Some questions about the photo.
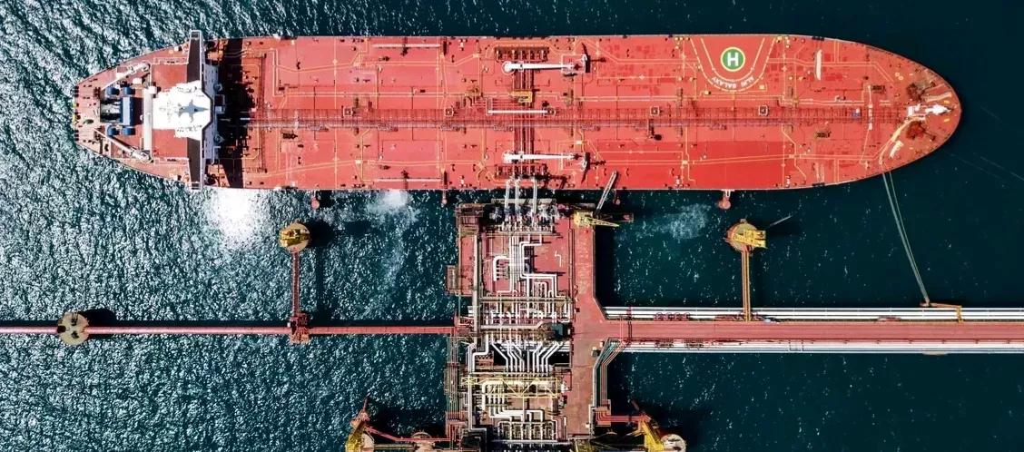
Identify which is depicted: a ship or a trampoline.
ship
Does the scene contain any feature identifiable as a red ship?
Yes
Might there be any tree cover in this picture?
No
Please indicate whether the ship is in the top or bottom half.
top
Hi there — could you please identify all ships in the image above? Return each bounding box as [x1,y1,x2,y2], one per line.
[75,30,961,196]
